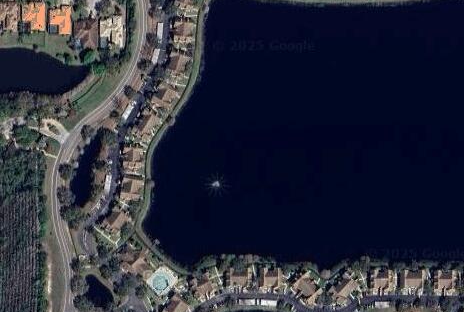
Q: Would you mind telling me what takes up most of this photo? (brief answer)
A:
water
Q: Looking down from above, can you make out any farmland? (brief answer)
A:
No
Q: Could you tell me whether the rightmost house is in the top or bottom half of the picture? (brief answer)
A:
bottom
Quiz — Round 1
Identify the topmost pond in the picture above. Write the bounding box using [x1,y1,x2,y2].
[0,45,89,94]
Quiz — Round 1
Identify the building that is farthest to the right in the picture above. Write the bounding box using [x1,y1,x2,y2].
[434,269,457,295]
